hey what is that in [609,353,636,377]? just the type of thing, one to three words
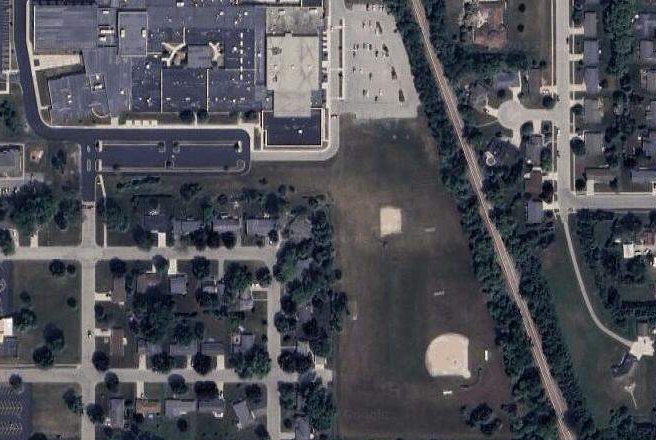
house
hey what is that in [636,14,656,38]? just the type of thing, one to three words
house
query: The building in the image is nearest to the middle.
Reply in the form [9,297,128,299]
[290,220,311,238]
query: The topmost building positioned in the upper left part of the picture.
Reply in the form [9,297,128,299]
[33,0,323,145]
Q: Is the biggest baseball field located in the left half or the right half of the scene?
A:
right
